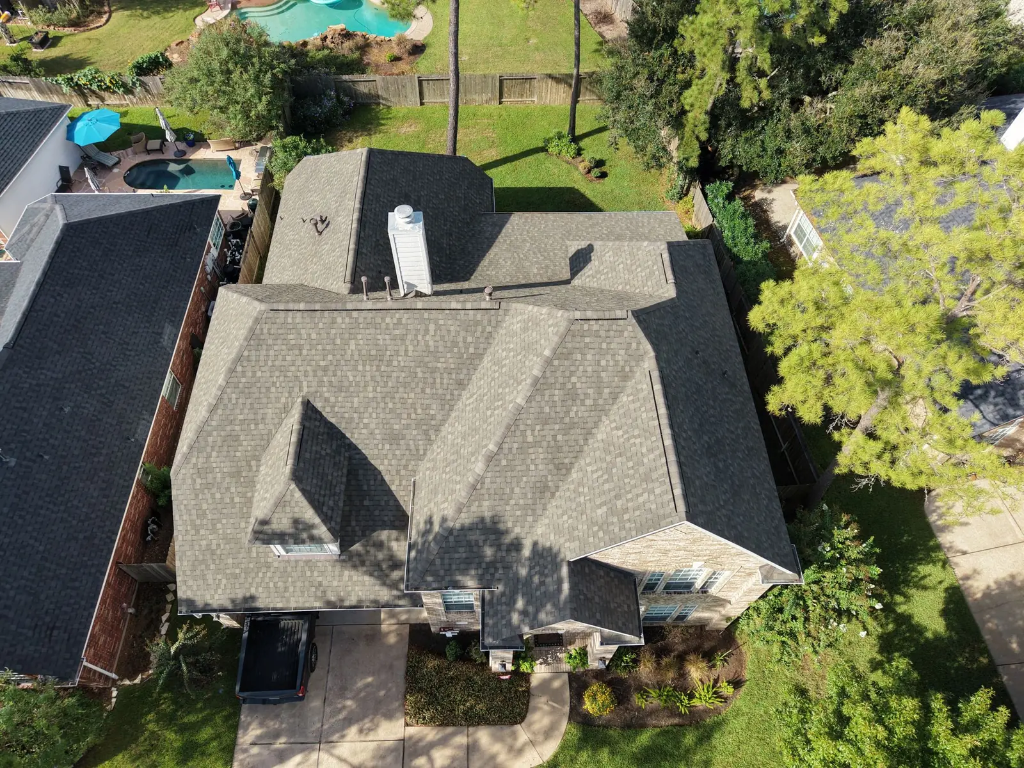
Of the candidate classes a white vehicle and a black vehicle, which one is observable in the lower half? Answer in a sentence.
There is a black vehicle in the lower half.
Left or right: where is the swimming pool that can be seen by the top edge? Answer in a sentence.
The swimming pool that can be seen by the top edge sits on the left side.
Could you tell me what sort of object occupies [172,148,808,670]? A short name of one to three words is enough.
house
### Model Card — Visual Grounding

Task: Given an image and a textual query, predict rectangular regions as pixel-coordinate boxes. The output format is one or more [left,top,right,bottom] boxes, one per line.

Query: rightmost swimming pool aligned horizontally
[232,0,417,42]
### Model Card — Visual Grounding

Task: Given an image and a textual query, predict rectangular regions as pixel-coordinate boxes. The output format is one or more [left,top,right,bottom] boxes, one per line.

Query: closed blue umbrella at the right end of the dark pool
[227,156,243,201]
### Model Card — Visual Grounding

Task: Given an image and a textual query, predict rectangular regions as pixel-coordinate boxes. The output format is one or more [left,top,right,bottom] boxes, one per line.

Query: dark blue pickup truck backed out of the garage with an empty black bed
[240,615,319,710]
